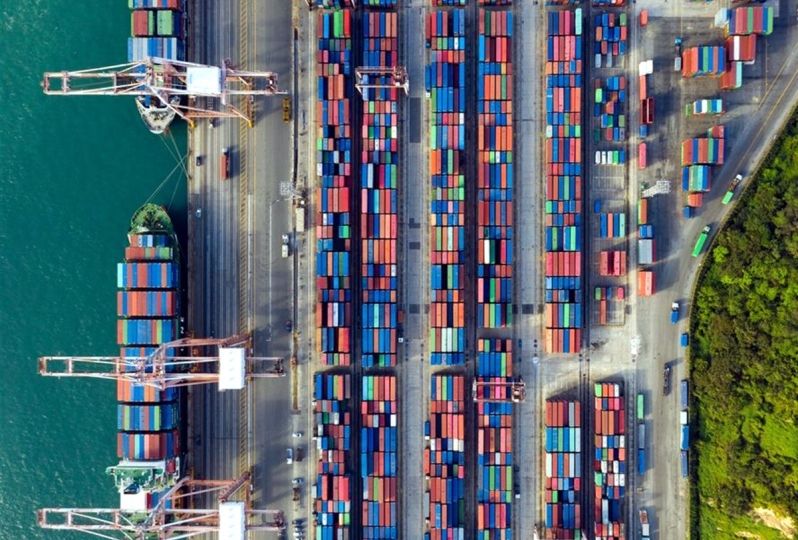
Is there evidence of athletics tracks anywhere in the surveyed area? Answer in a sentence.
No, there isn't any athletics track down there.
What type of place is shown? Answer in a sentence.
The picture captures a port.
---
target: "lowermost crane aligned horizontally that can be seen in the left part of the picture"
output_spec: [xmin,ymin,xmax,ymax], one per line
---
[32,462,288,540]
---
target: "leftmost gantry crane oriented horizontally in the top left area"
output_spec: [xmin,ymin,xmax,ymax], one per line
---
[37,56,283,132]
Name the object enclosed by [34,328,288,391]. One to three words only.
container crane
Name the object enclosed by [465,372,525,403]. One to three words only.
container crane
